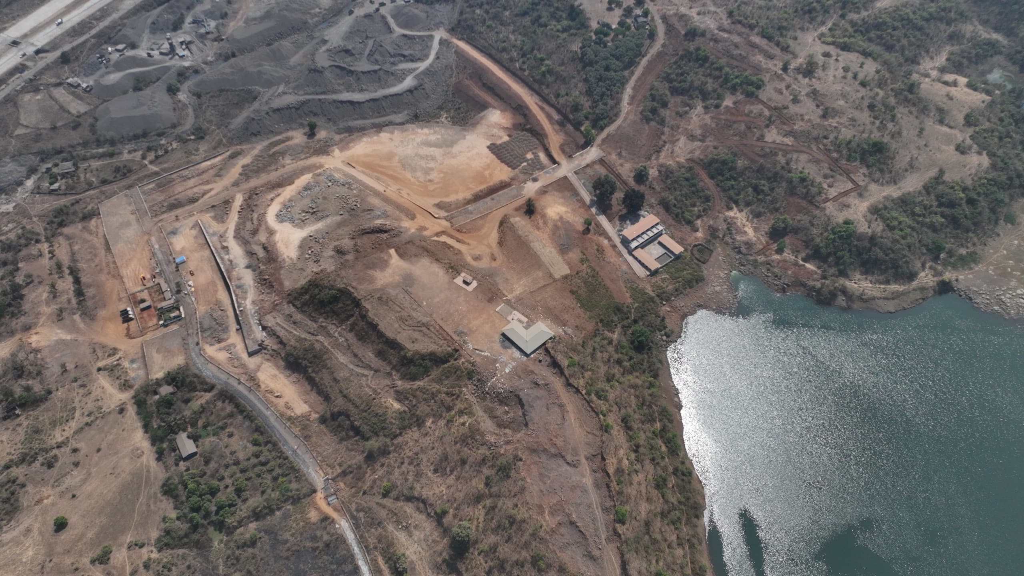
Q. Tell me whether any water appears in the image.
Yes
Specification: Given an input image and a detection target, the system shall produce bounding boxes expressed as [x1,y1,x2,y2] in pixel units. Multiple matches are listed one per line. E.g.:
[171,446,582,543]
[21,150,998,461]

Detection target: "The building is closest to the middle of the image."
[504,321,555,357]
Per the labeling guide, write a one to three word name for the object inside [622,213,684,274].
house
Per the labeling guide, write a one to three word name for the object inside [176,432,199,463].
house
